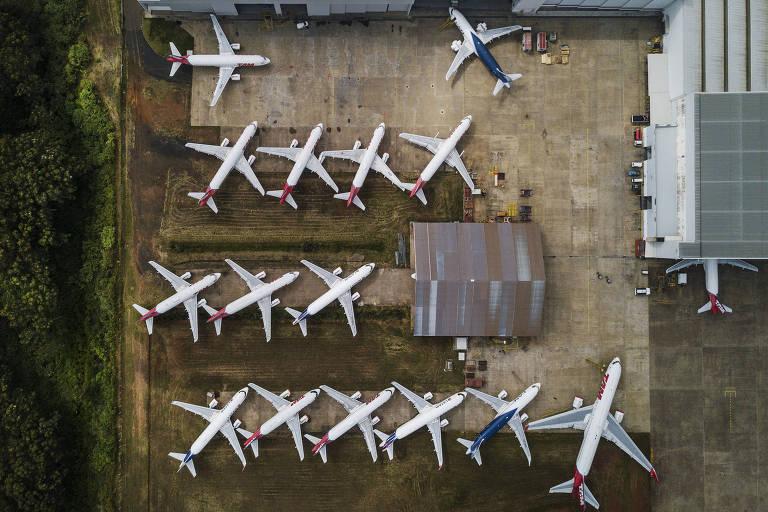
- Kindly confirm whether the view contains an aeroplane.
Yes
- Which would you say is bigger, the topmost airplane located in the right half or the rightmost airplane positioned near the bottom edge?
the rightmost airplane positioned near the bottom edge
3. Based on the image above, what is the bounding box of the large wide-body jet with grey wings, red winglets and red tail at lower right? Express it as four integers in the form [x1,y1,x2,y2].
[529,358,658,508]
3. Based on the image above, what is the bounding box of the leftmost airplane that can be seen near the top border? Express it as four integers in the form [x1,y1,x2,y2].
[163,13,271,106]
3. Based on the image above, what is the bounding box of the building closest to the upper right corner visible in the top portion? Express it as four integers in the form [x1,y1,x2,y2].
[660,0,768,99]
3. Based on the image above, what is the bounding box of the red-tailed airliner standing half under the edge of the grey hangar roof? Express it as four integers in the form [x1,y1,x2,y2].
[665,259,759,315]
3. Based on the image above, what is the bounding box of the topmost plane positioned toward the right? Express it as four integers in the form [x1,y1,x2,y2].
[446,7,523,94]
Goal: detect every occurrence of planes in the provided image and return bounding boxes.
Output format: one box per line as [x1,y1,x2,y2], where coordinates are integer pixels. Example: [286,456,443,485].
[133,261,220,342]
[255,124,339,210]
[237,383,321,461]
[285,260,376,337]
[665,259,759,315]
[320,123,405,210]
[399,115,476,205]
[170,387,250,475]
[446,7,523,94]
[305,385,395,463]
[529,358,658,508]
[184,121,265,213]
[202,259,299,342]
[374,382,468,468]
[163,13,271,106]
[458,383,543,463]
